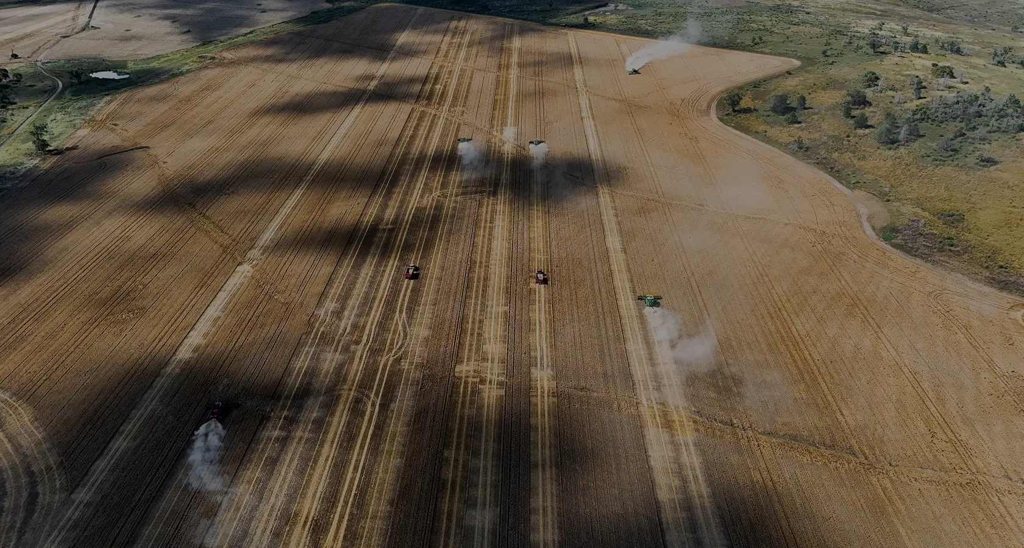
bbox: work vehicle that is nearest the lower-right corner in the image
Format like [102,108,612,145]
[636,295,662,311]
